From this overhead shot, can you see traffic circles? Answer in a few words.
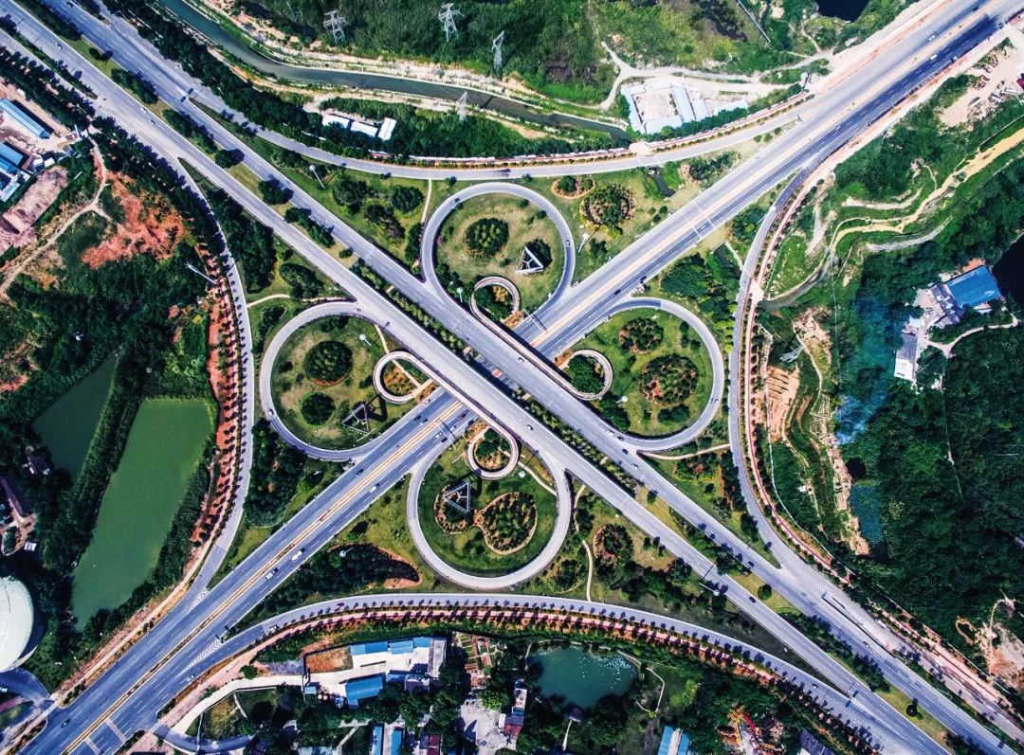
No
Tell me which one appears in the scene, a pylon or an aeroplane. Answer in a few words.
pylon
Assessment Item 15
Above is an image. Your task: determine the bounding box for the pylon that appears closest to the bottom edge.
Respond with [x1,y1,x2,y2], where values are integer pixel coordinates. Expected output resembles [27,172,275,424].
[777,341,815,363]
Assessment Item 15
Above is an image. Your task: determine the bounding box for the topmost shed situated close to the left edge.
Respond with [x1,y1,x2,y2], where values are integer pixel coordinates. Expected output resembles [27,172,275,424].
[2,98,54,142]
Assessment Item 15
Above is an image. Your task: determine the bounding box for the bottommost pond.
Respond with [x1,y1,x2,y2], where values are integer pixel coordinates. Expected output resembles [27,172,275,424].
[529,646,635,708]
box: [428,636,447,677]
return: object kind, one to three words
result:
building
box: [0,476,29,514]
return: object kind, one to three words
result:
house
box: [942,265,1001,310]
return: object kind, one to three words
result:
building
